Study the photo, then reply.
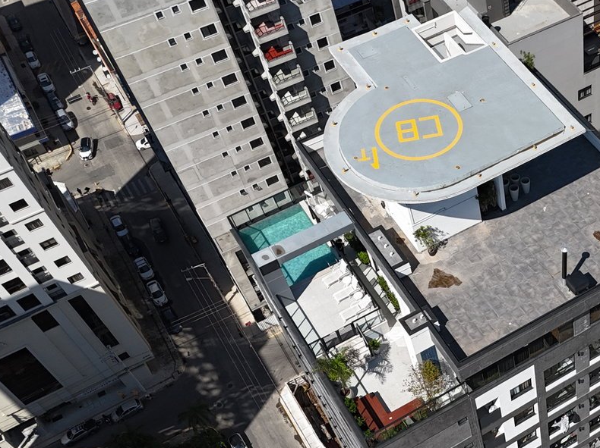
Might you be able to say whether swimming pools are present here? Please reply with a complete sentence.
Yes, the picture does show a swimming pool.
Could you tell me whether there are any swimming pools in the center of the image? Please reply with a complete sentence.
Yes, in the center of the image there is a swimming pool.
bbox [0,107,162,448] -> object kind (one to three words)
building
